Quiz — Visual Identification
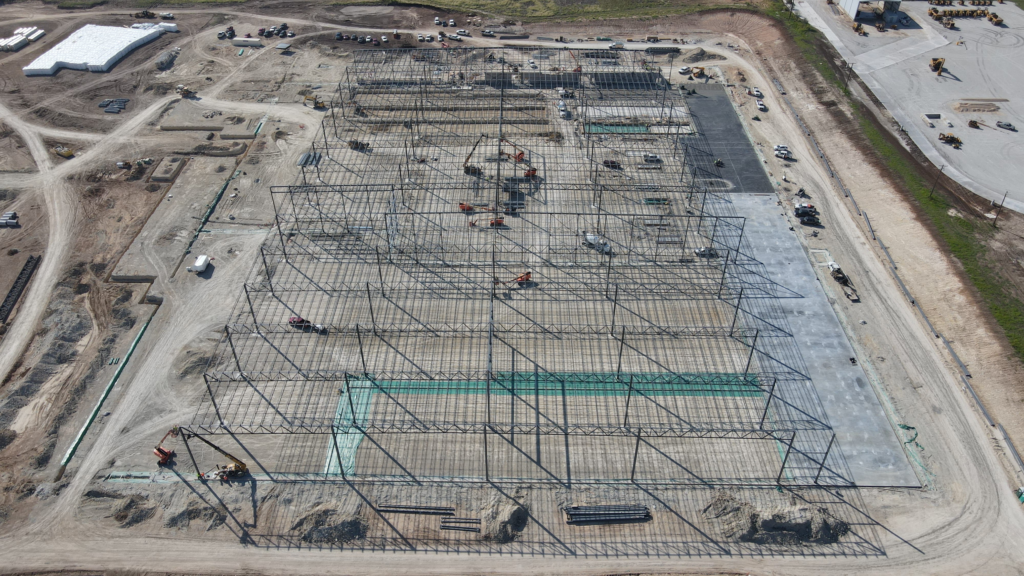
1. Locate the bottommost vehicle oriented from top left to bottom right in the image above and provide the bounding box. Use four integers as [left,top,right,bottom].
[178,431,248,483]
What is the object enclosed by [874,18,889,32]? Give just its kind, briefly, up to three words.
work vehicle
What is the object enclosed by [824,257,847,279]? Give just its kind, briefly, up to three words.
truck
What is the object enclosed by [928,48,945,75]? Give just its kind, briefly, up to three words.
work vehicle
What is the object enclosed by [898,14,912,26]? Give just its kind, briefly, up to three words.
vehicle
